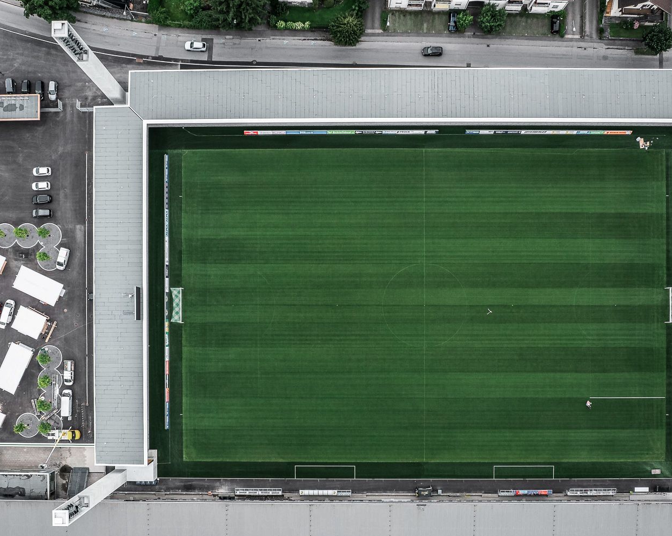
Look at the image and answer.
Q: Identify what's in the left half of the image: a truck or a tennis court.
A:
truck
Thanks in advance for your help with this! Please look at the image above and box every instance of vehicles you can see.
[31,195,53,204]
[46,80,58,102]
[33,79,44,102]
[63,360,75,386]
[31,180,51,191]
[32,207,54,218]
[4,76,15,95]
[32,166,52,176]
[18,78,30,94]
[59,391,72,421]
[0,298,16,329]
[56,249,70,269]
[39,425,80,469]
[421,45,443,57]
[185,41,206,52]
[550,15,562,37]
